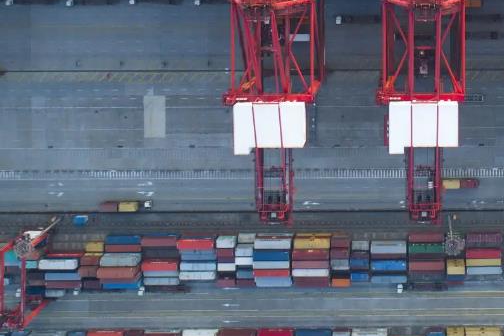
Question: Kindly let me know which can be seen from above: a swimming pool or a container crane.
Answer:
container crane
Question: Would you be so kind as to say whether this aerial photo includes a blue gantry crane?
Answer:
No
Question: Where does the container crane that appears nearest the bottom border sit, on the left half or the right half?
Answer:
left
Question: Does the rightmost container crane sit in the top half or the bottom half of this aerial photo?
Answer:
top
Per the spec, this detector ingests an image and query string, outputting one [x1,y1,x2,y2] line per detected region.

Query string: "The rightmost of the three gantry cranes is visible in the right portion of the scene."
[378,0,469,232]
